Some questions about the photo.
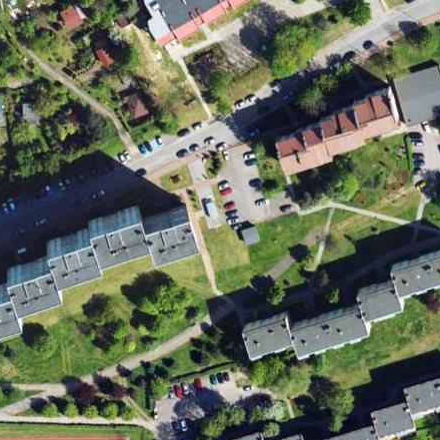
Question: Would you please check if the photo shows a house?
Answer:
Yes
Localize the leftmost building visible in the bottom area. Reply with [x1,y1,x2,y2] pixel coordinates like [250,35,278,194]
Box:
[0,209,199,340]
